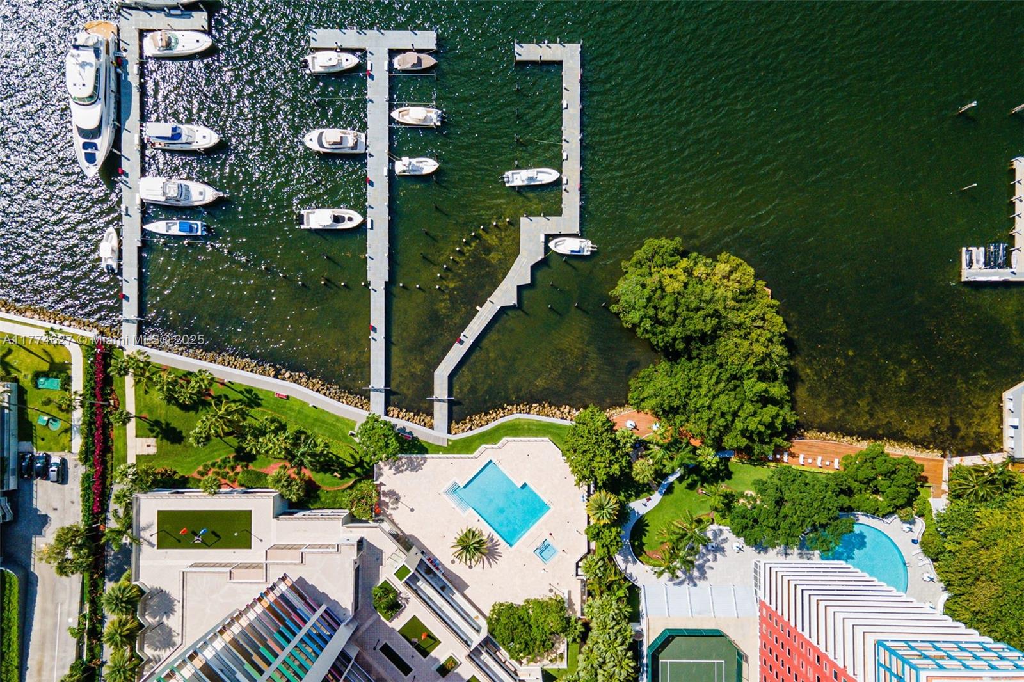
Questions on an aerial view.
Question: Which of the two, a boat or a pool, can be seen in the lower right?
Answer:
pool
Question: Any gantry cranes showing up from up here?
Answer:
No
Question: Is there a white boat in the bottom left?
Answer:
No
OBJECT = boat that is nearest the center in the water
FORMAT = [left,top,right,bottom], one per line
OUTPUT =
[549,237,596,255]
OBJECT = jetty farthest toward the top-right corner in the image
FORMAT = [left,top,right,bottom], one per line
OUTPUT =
[959,156,1024,282]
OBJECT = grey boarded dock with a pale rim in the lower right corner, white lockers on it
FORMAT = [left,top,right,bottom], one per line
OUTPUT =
[999,381,1024,457]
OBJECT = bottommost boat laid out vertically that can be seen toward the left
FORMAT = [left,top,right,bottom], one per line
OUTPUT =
[100,227,121,272]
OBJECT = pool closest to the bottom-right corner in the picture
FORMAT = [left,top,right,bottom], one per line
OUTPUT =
[818,521,912,597]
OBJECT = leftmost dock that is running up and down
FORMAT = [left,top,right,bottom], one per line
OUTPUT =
[119,9,210,346]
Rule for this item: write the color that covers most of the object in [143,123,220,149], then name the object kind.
white boat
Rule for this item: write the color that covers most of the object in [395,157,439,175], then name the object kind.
white boat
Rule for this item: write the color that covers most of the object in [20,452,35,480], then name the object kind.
black car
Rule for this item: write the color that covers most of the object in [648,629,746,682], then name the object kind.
green tennis court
